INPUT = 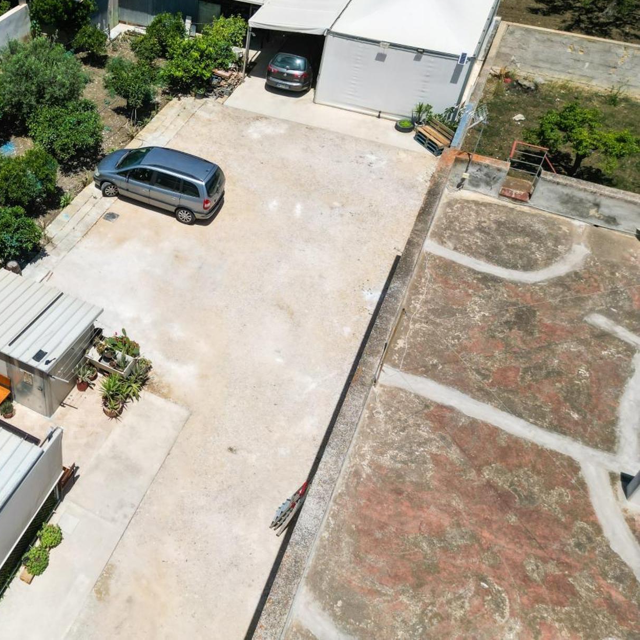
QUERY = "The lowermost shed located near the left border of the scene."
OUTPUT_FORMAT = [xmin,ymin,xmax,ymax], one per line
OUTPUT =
[0,268,104,427]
